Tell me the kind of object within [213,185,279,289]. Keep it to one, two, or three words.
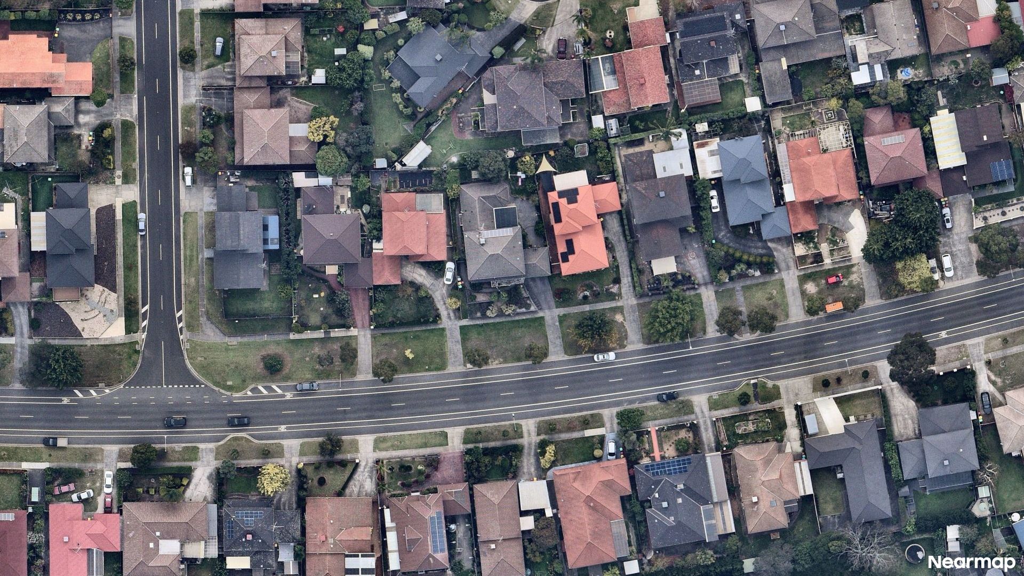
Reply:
house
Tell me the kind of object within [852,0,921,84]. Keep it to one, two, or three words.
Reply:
house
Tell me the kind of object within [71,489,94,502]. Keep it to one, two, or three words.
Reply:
vehicle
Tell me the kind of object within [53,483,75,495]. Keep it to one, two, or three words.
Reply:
vehicle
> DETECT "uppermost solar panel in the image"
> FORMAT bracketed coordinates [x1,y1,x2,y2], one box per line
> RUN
[682,16,726,36]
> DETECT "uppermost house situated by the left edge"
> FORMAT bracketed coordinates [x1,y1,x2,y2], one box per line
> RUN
[0,34,91,96]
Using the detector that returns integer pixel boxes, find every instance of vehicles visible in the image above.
[183,167,192,187]
[709,189,720,212]
[826,274,843,284]
[164,417,186,427]
[228,417,250,426]
[296,381,318,391]
[444,262,455,284]
[53,483,75,495]
[942,254,953,277]
[137,213,147,235]
[607,441,616,459]
[44,437,68,447]
[593,351,616,362]
[928,258,939,280]
[71,489,94,502]
[214,37,223,56]
[656,391,679,402]
[103,471,113,493]
[942,207,952,228]
[981,392,992,413]
[103,494,113,514]
[557,37,567,60]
